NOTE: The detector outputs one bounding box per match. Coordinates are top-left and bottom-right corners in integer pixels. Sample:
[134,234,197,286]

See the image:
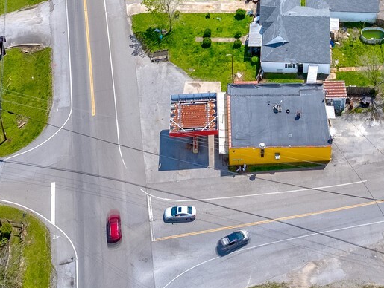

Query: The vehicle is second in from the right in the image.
[163,204,195,221]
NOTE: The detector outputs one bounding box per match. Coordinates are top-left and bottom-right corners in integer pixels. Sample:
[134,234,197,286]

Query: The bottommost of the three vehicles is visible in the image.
[216,230,251,252]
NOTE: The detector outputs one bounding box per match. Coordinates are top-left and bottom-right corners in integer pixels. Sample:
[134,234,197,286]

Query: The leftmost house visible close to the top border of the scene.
[248,0,340,84]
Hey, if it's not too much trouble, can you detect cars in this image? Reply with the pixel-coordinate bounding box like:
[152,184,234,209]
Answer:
[163,204,195,221]
[216,230,251,252]
[105,210,120,244]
